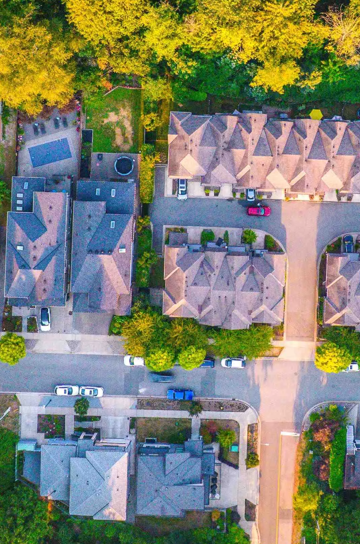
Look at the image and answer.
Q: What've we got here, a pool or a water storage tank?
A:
pool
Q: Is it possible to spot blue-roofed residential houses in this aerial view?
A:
Yes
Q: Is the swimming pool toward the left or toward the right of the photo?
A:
left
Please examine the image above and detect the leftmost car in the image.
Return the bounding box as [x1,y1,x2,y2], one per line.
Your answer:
[39,307,51,330]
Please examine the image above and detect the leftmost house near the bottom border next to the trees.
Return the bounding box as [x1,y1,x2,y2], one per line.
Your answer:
[23,433,131,522]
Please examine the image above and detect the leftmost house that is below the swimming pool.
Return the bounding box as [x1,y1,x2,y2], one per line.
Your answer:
[4,176,73,308]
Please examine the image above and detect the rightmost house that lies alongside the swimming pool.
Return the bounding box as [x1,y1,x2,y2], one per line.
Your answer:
[70,180,139,316]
